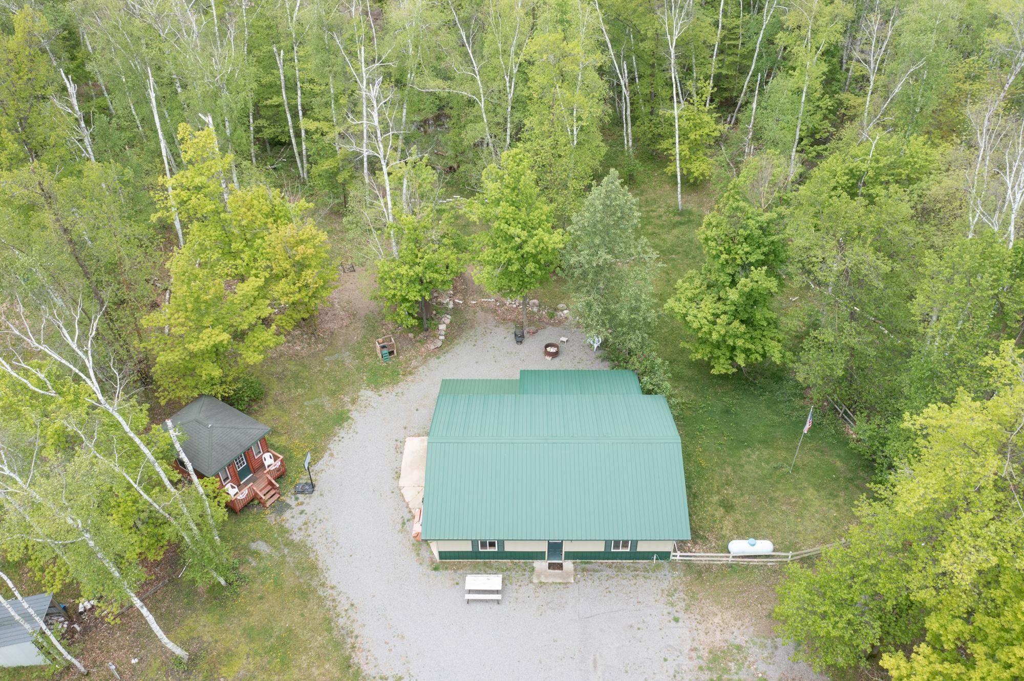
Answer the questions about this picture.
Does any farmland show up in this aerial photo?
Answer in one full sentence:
No, the scene doesn't show any farmland.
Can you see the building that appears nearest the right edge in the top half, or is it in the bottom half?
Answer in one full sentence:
The building that appears nearest the right edge sits in the bottom half of the picture.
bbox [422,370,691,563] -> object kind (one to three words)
building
